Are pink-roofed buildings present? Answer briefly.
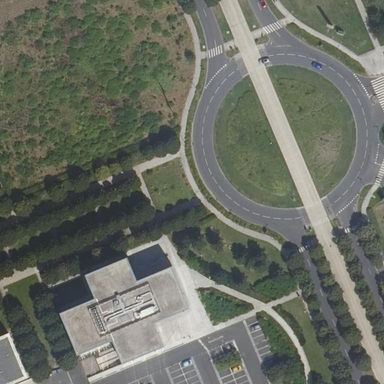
No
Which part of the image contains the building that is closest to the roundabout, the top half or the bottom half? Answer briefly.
bottom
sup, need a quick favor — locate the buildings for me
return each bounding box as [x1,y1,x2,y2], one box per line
[0,334,28,384]
[57,258,188,380]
